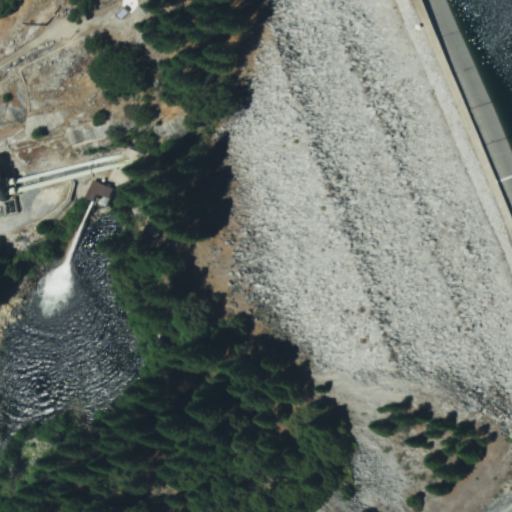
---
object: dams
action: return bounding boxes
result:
[229,0,512,414]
